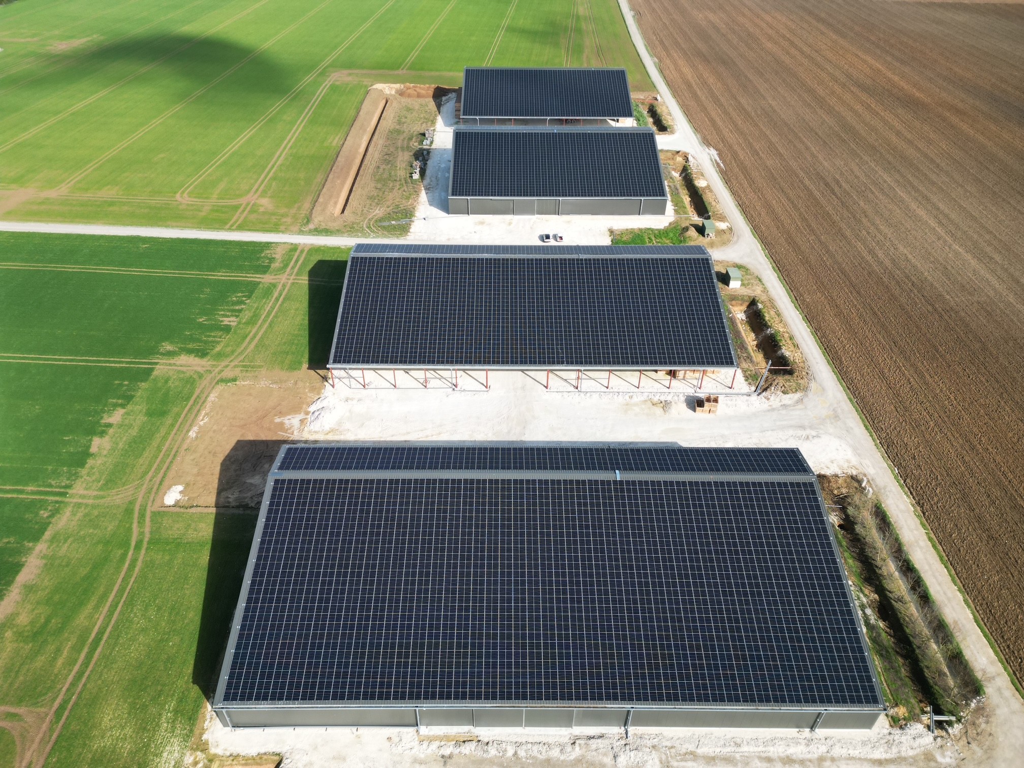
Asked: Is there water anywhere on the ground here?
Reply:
No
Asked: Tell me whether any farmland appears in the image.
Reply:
Yes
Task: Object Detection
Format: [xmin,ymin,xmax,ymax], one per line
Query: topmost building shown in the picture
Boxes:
[460,66,637,127]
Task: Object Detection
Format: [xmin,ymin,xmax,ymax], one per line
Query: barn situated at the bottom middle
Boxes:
[211,445,888,740]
